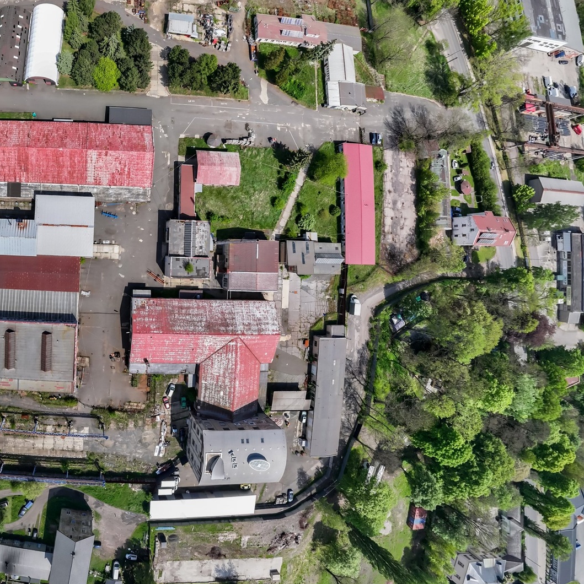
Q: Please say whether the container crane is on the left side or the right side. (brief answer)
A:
right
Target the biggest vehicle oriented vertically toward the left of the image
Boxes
[153,421,171,459]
